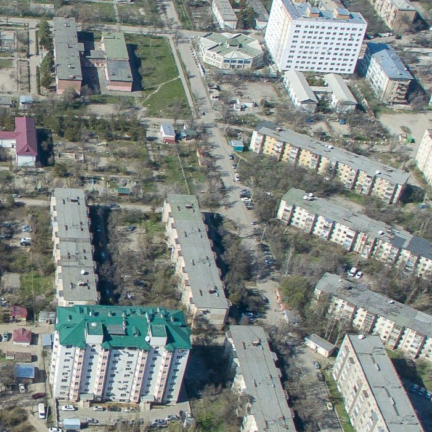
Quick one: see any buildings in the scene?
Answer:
Yes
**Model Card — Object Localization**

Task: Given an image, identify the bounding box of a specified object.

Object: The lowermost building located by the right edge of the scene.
[336,334,424,432]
